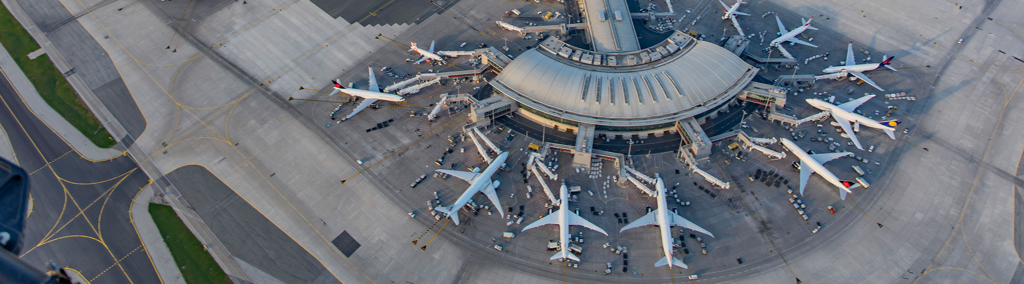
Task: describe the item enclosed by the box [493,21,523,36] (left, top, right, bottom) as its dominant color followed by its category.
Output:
white jet bridge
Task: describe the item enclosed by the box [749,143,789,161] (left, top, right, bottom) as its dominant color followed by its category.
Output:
white jet bridge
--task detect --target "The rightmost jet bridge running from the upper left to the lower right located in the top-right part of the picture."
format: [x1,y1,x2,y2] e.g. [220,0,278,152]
[773,41,796,59]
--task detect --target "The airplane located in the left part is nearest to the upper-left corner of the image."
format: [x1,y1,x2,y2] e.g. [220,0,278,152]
[330,63,405,118]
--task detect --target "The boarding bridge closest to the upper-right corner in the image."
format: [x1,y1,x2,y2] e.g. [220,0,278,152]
[812,72,851,84]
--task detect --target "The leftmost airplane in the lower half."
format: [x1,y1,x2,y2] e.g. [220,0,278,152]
[436,152,509,223]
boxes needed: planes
[822,39,895,90]
[720,0,750,19]
[619,176,709,263]
[806,94,901,149]
[408,40,442,63]
[330,63,405,118]
[436,152,509,223]
[522,184,608,258]
[780,139,859,199]
[769,12,820,47]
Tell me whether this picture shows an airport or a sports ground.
airport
